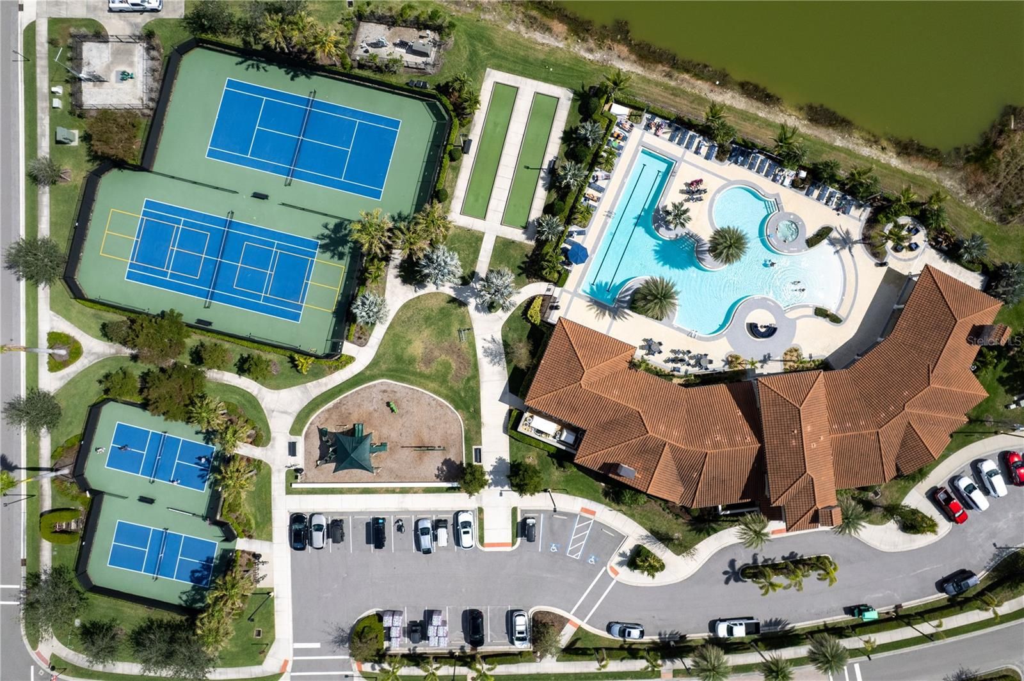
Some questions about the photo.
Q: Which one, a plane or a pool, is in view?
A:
pool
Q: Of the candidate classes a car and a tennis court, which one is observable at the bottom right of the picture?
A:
car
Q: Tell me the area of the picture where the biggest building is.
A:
right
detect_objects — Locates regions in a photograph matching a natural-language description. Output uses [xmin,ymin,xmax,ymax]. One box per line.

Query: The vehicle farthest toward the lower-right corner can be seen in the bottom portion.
[945,573,985,597]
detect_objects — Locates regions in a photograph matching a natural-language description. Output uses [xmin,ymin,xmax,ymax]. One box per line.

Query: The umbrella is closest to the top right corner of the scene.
[567,243,587,263]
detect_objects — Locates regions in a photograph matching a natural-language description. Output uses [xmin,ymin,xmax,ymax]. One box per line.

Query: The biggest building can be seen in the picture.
[525,264,1011,532]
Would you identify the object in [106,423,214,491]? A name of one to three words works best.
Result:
sports court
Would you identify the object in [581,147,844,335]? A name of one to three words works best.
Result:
swimming pool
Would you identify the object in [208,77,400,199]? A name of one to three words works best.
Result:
tennis court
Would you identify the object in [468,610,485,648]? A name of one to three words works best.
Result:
car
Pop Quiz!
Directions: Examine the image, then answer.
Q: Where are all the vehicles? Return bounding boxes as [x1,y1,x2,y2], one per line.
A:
[512,612,529,649]
[1007,449,1024,486]
[609,623,646,643]
[397,520,404,533]
[854,607,882,623]
[468,610,485,648]
[945,573,985,597]
[288,514,306,553]
[416,519,433,556]
[526,519,536,545]
[307,514,325,551]
[328,520,343,547]
[371,518,384,551]
[408,623,420,648]
[435,524,448,551]
[980,461,1010,498]
[936,486,972,525]
[717,620,762,641]
[959,476,991,512]
[457,511,475,552]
